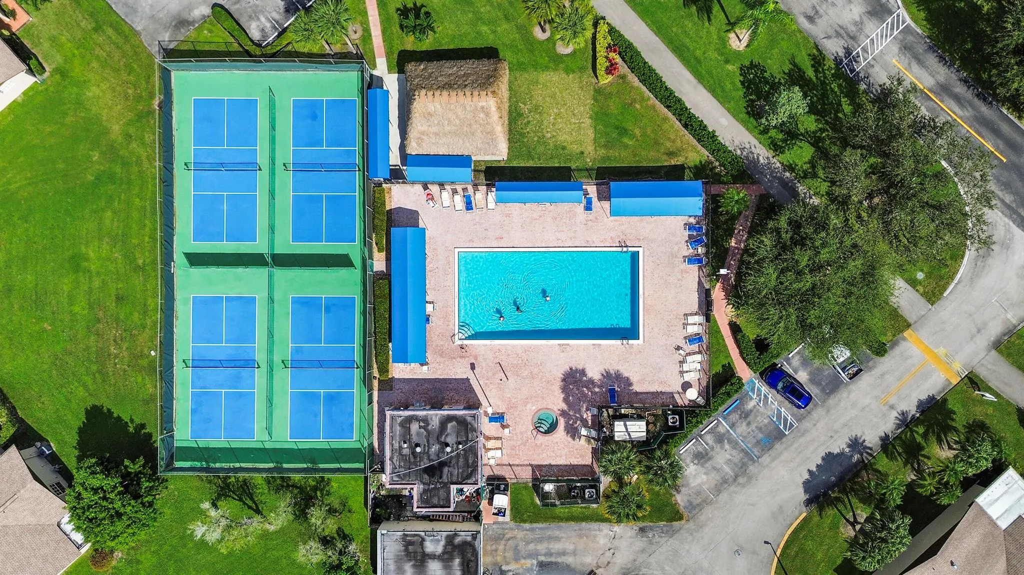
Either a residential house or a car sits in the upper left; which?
residential house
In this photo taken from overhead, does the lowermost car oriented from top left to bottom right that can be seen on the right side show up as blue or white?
blue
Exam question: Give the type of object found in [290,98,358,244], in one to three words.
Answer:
sports court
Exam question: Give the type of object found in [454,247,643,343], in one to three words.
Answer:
swimming pool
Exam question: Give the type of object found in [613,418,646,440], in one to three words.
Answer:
shed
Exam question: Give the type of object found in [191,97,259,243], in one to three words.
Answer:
sports court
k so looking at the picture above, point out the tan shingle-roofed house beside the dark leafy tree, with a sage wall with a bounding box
[0,444,94,575]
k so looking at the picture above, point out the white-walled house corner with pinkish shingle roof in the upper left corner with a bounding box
[0,37,36,110]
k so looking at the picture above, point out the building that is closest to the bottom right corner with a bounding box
[858,494,1024,575]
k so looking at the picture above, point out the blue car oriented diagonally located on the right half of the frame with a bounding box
[761,365,814,410]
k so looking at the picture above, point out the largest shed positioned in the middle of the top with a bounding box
[403,56,512,165]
